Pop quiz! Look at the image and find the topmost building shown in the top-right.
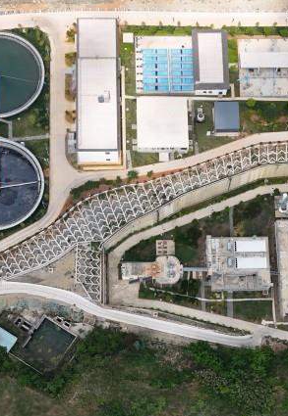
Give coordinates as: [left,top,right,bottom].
[193,28,230,97]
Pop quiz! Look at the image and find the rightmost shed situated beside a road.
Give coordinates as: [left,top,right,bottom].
[213,100,240,138]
